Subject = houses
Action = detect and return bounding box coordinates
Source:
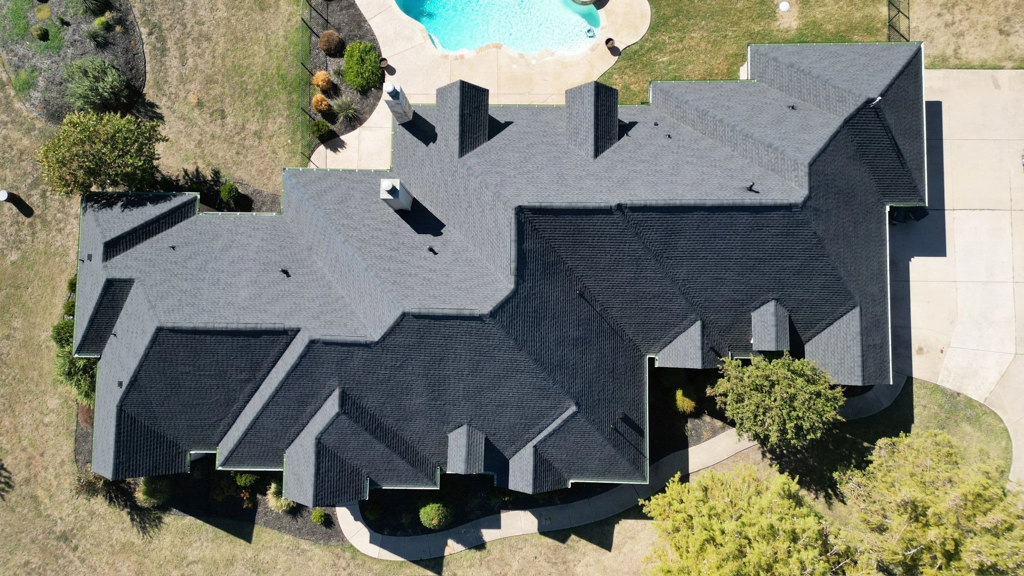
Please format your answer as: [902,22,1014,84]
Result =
[71,40,929,508]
